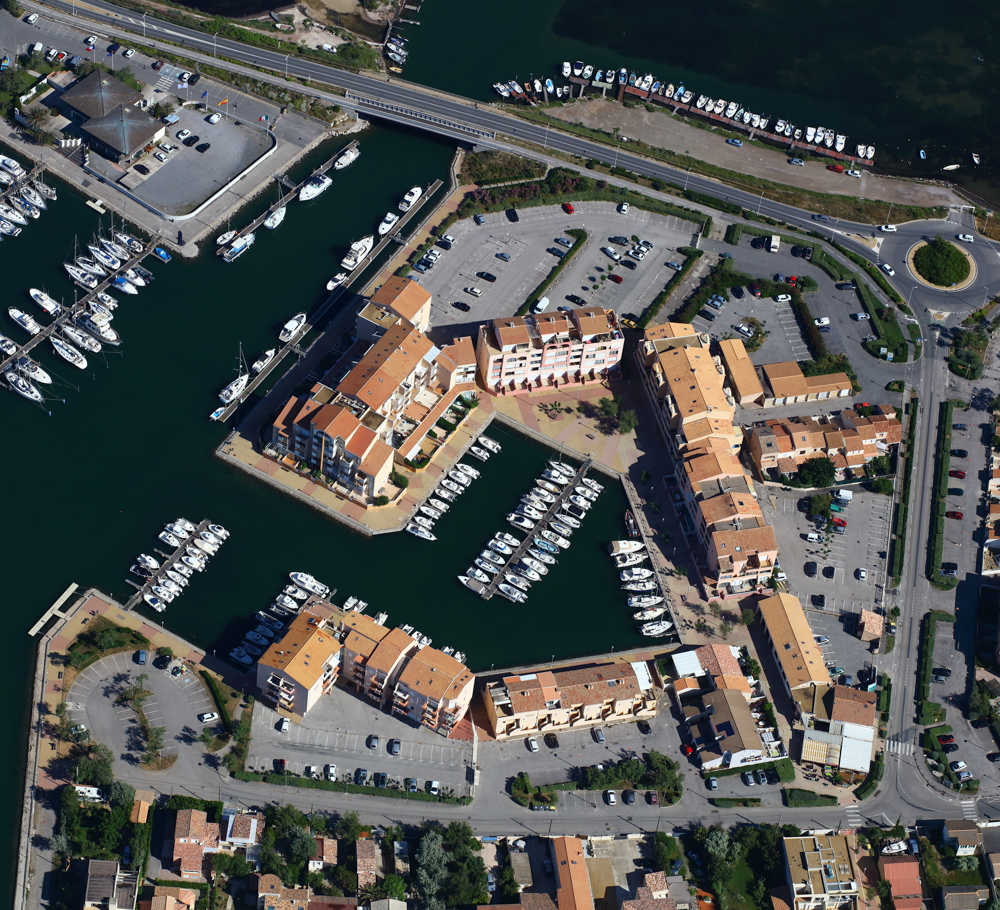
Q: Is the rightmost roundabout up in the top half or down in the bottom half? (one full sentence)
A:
The top half of the photo is where the rightmost roundabout is.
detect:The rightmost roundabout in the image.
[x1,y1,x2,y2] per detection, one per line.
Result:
[908,240,976,289]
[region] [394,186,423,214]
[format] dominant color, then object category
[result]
white boat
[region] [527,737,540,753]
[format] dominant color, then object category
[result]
white vehicle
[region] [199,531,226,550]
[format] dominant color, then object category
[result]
white boat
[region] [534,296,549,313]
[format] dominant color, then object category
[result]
white vehicle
